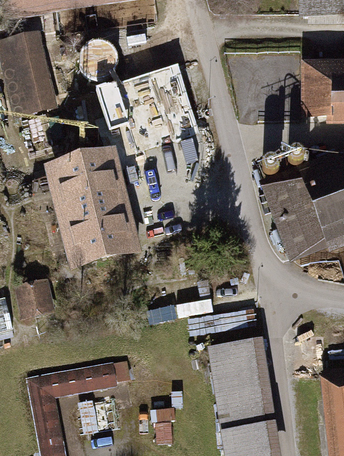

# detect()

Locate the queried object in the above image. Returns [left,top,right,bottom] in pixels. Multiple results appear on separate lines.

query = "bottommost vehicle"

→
[90,436,114,449]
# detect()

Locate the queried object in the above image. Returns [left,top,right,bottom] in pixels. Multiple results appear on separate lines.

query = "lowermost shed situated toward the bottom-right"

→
[220,416,285,456]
